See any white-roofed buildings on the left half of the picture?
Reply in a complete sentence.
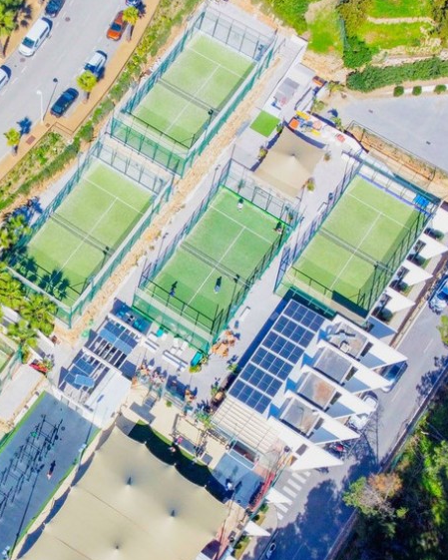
Yes, the scene does show a white-roofed building on the left half of the picture.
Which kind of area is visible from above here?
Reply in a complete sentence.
The picture captures a sports ground.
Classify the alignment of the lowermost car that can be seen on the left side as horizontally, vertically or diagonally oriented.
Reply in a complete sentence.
I'd say the lowermost car that can be seen on the left side is aligned diagonally in the picture.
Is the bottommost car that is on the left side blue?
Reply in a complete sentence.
Yes, the bottommost car that is on the left side is indeed blue.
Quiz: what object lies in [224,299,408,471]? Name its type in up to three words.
building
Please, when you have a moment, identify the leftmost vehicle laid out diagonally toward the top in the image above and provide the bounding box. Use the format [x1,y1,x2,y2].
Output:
[20,15,50,52]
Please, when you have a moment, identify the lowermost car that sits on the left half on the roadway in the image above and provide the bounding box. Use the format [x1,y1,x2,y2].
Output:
[50,84,80,117]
